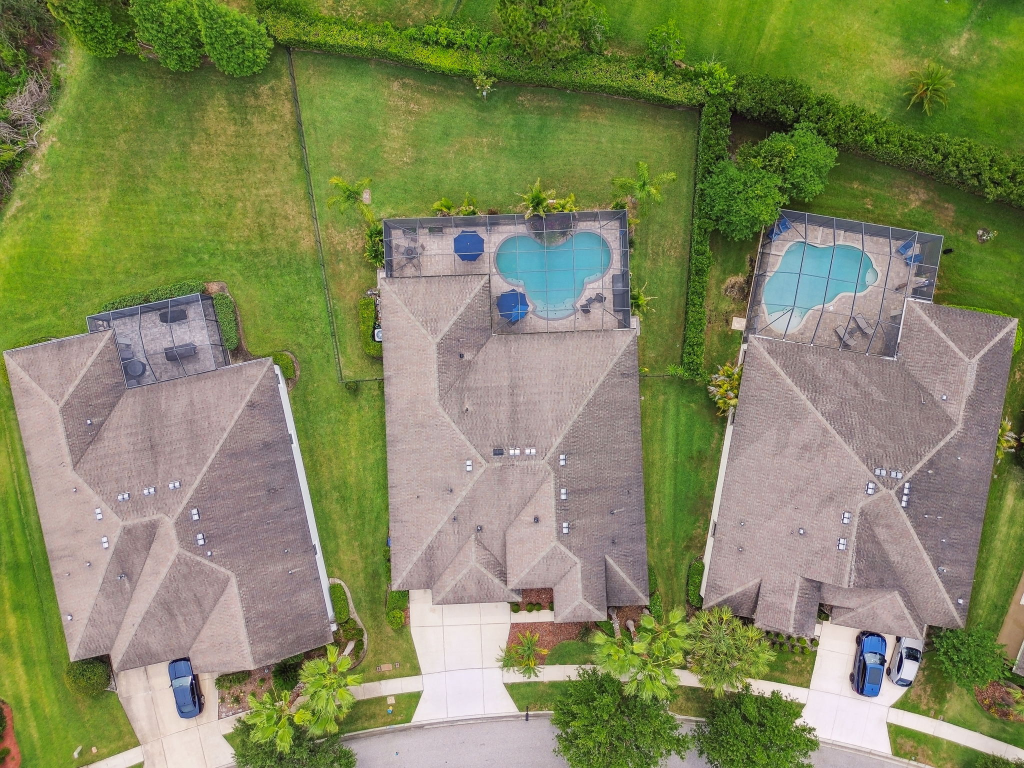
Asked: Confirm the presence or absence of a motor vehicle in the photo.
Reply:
Yes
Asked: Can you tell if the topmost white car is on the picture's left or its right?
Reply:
right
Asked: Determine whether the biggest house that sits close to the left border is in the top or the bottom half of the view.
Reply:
bottom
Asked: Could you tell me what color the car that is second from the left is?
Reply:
blue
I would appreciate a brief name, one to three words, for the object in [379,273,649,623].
house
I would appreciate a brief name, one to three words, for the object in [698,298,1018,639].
house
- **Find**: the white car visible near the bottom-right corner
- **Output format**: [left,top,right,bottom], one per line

[889,625,931,688]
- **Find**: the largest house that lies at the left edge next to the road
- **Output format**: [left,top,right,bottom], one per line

[4,327,337,673]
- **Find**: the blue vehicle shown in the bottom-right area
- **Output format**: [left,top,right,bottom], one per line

[848,628,889,697]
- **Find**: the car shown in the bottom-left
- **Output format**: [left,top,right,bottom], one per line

[168,657,209,721]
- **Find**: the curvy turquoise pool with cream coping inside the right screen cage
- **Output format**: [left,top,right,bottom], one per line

[761,237,883,335]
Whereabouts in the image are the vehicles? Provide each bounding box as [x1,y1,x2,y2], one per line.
[889,625,931,688]
[848,628,889,697]
[168,657,209,721]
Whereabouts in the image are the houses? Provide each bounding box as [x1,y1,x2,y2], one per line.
[4,327,337,673]
[379,273,649,623]
[698,298,1018,639]
[992,578,1024,675]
